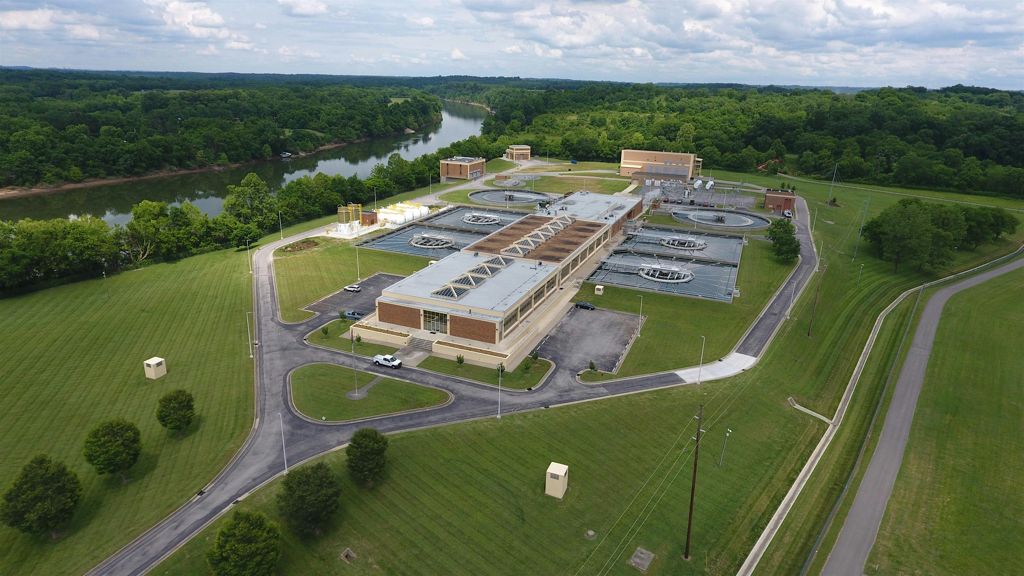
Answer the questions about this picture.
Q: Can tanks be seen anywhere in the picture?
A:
Yes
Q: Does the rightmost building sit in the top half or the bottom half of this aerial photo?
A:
top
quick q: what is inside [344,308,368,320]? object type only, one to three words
vehicle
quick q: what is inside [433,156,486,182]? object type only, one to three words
building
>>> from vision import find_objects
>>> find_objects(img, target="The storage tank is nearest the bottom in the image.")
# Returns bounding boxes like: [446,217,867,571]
[586,244,740,304]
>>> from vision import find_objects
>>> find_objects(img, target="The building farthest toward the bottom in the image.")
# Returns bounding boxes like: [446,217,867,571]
[543,463,568,498]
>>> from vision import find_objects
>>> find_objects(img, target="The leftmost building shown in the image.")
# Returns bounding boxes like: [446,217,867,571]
[141,354,169,379]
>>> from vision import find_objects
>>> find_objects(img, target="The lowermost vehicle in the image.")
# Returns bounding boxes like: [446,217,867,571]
[372,354,405,369]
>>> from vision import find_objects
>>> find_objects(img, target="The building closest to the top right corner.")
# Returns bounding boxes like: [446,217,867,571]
[764,188,797,214]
